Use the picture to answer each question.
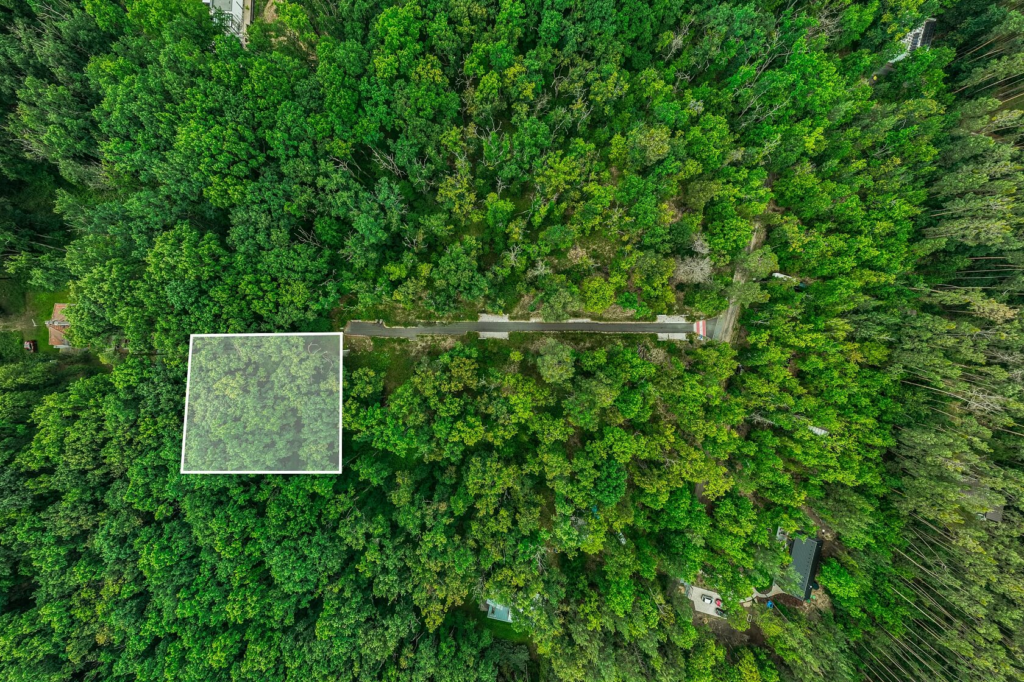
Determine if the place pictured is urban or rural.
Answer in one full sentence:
From above, the setting appears rural.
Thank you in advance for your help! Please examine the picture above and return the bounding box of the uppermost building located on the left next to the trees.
[206,0,249,56]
